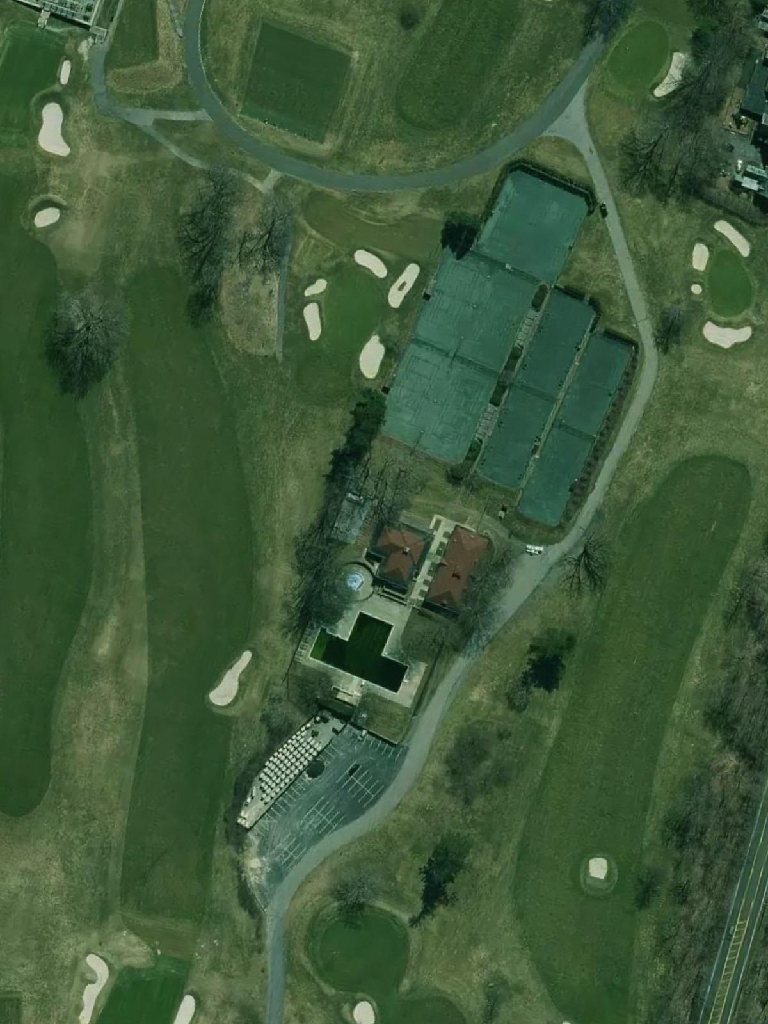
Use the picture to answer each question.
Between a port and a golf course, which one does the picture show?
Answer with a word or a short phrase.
golf course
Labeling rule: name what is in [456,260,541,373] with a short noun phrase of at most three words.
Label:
tennis court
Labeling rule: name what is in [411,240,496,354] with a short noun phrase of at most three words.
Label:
tennis court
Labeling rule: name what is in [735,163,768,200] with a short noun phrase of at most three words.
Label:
house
